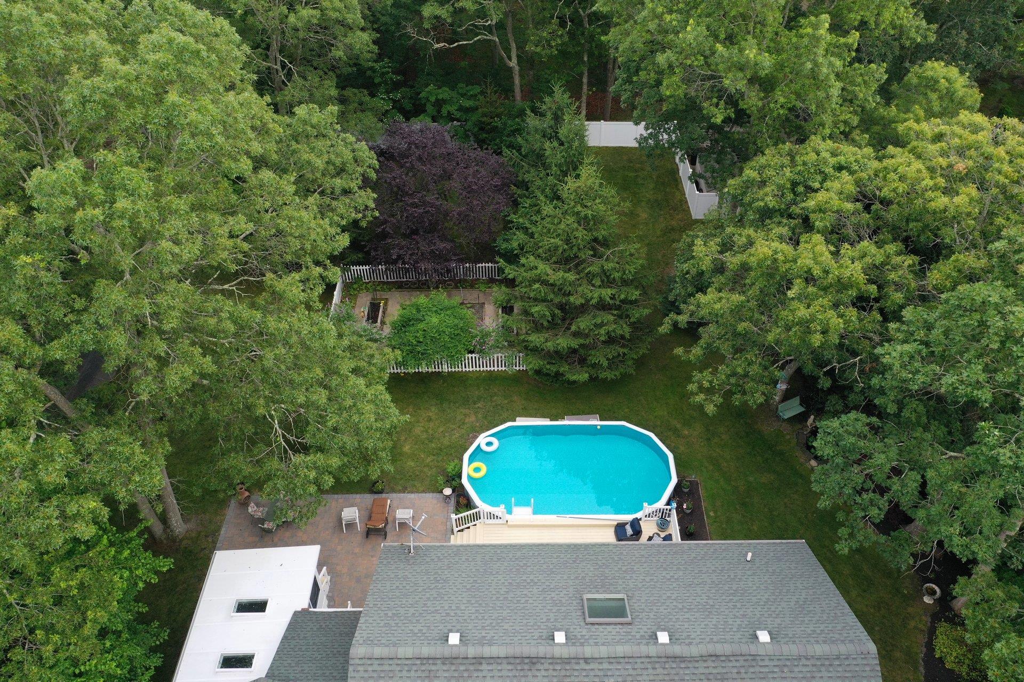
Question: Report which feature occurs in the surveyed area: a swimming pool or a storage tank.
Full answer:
I can see a swimming pool in this picture.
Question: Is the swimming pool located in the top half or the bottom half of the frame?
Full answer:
Seen from above, the swimming pool lies in the bottom half of the view.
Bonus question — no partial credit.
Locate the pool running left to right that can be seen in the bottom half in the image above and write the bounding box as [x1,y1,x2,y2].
[459,422,681,529]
